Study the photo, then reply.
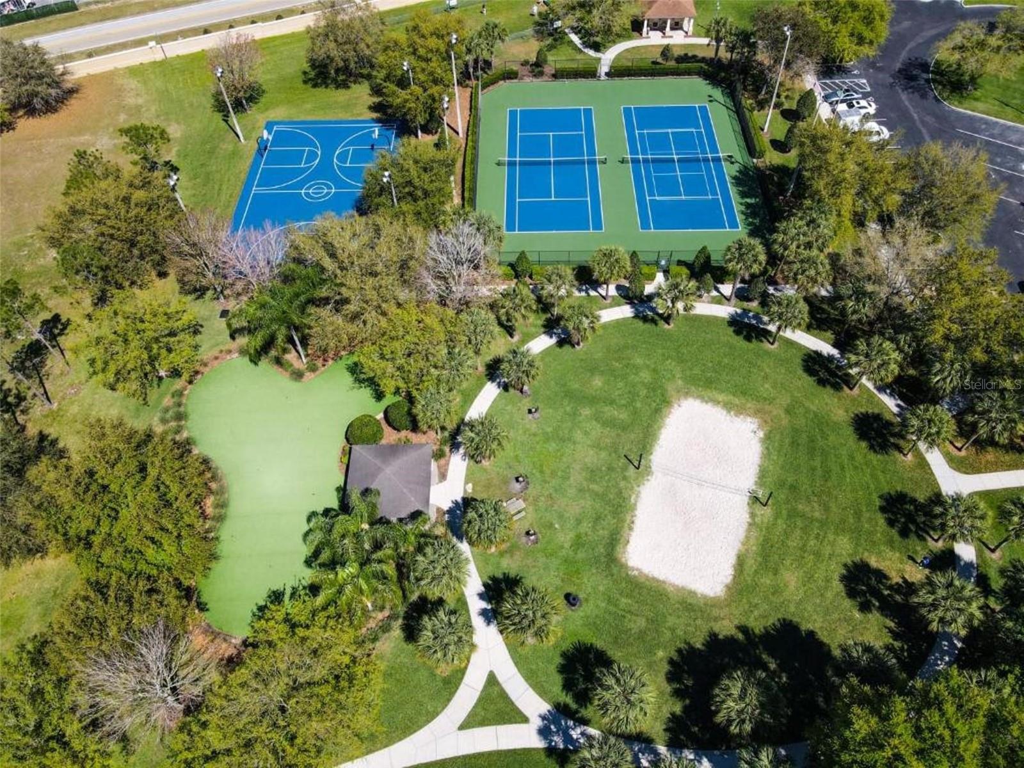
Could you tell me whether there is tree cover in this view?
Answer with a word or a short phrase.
Yes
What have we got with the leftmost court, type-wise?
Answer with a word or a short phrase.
basketball court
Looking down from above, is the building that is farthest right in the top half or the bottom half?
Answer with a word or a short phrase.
top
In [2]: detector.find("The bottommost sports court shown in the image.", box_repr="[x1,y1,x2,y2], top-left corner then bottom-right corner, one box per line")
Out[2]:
[625,398,764,597]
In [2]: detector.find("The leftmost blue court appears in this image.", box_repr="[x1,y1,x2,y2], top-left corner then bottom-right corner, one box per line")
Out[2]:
[211,119,399,276]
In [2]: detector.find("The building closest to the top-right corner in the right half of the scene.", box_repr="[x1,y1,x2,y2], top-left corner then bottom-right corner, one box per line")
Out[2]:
[637,0,702,39]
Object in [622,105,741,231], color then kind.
blue tennis court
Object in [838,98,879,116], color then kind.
white car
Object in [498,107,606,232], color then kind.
blue tennis court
